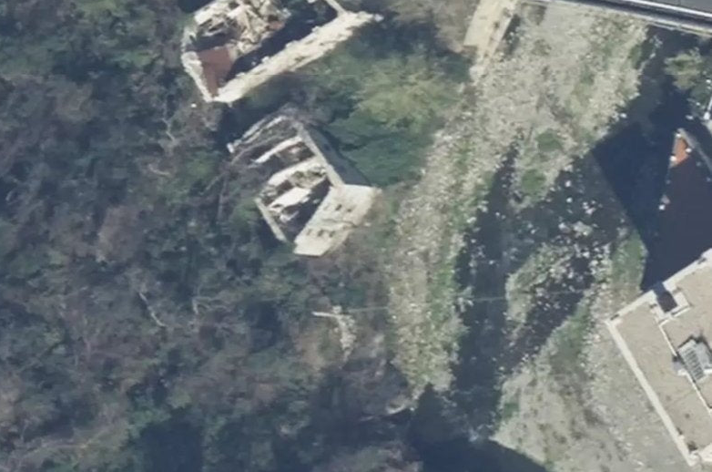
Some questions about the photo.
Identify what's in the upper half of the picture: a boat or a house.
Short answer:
house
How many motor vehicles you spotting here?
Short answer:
none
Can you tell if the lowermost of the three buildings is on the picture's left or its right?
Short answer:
right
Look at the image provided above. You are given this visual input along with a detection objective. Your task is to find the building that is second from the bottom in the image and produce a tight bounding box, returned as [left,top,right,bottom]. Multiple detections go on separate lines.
[233,114,380,255]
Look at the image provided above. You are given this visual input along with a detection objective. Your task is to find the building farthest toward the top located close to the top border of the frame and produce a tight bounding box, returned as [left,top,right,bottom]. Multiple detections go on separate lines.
[182,0,383,104]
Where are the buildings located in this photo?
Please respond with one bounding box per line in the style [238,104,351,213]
[608,249,712,468]
[233,114,380,255]
[182,0,383,104]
